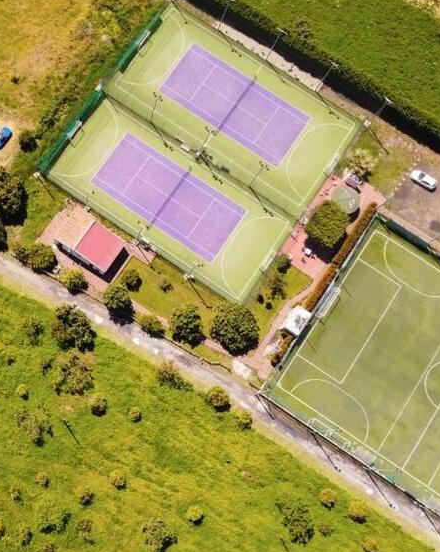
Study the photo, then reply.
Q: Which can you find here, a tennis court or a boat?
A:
tennis court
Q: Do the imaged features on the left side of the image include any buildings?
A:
Yes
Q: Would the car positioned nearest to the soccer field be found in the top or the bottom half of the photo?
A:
top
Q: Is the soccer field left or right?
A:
right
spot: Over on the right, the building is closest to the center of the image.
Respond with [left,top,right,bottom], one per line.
[280,305,313,337]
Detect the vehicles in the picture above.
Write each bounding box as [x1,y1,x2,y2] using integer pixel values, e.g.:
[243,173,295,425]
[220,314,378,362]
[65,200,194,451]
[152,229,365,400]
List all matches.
[0,126,11,150]
[409,171,439,191]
